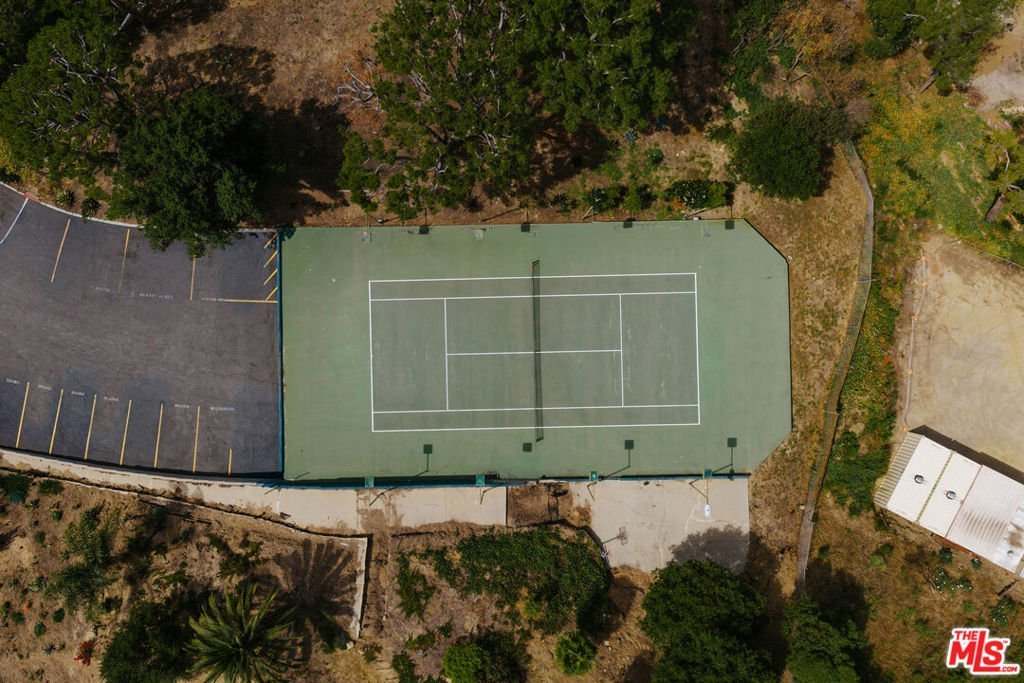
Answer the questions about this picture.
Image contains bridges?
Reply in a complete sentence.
No, the scene contains no bridge.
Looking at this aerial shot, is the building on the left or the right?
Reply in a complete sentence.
The building appears in the right half of the scene.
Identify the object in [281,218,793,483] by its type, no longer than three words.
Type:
tennis court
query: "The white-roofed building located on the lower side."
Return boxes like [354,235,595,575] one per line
[873,433,1024,577]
